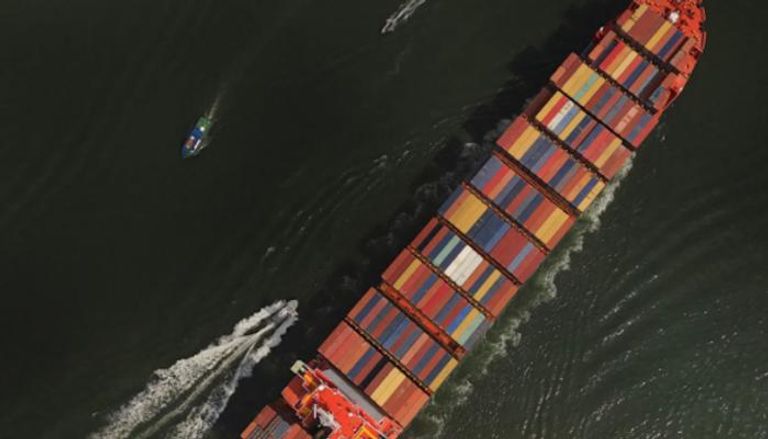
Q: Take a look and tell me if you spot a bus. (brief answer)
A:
No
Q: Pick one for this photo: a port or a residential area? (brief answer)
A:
port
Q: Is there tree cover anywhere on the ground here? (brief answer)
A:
No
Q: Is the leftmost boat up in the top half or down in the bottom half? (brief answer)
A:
top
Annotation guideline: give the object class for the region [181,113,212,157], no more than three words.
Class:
boat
